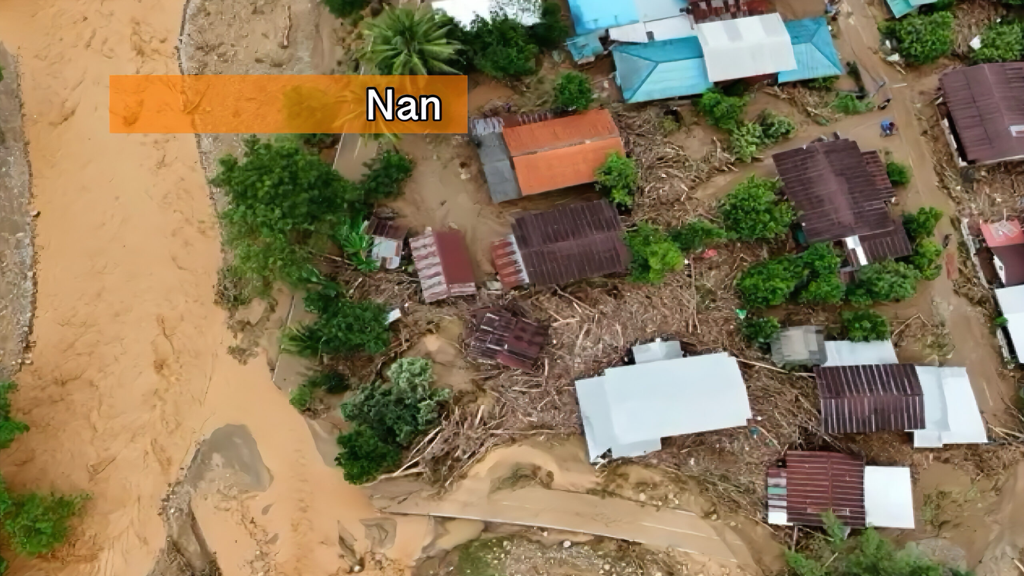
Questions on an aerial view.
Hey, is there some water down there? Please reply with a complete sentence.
Yes, there is water in the image.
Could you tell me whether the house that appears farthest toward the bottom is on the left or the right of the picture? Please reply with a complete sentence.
The house that appears farthest toward the bottom sits on the right side.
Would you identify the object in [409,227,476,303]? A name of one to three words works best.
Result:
house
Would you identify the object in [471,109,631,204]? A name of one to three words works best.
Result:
house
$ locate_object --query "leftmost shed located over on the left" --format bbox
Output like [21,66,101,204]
[362,218,407,272]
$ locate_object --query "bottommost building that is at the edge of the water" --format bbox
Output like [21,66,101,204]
[762,452,915,529]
